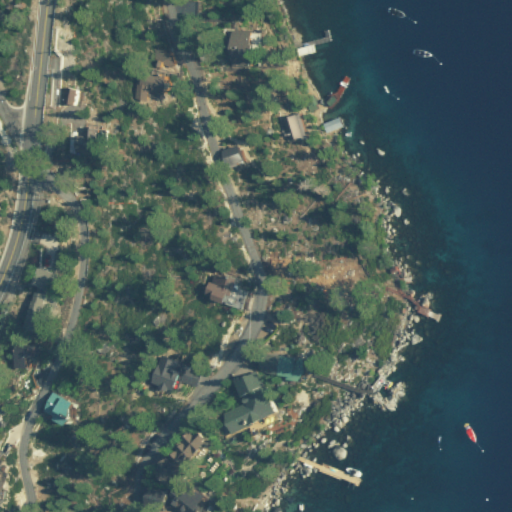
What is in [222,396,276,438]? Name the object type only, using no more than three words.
house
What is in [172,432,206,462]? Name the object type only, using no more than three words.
house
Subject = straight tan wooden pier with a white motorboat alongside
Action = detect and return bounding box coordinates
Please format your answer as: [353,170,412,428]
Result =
[298,456,362,488]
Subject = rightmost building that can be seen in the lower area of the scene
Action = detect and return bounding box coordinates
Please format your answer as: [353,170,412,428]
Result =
[276,355,302,381]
